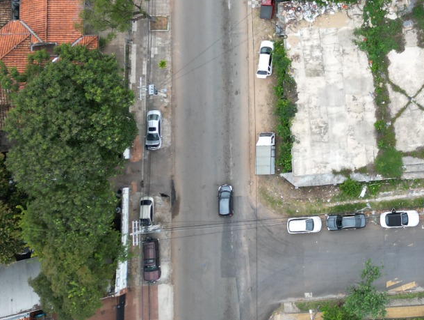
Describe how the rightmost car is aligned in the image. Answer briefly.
horizontally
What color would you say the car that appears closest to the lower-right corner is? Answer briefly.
white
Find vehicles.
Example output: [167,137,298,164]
[215,184,235,217]
[259,0,276,20]
[252,131,275,176]
[381,209,420,229]
[326,212,366,233]
[254,39,275,78]
[135,196,155,229]
[287,216,323,235]
[142,110,164,150]
[139,236,161,282]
